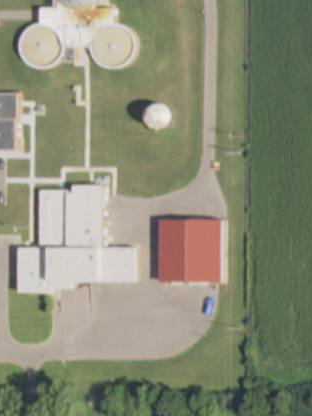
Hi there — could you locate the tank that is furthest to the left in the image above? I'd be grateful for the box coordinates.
[19,22,68,68]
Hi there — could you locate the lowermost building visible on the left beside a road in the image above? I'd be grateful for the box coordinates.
[18,184,143,294]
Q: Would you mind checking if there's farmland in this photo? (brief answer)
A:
Yes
